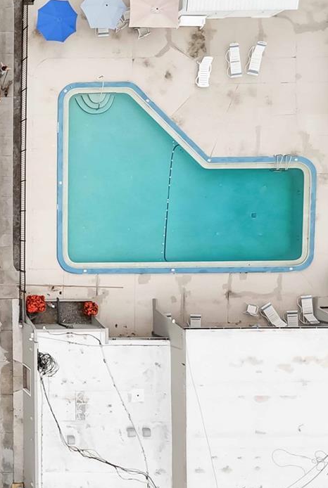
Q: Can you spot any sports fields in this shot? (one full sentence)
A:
No, no sports field is visible in the view.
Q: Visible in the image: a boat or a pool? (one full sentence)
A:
The image shows a pool.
